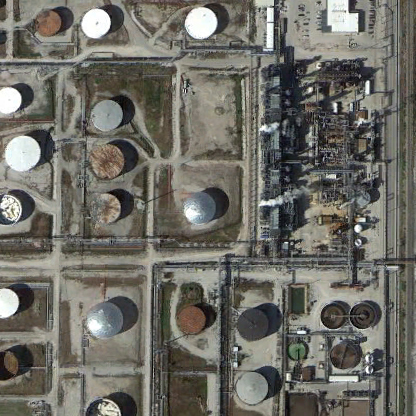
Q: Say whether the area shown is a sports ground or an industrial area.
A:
industrial area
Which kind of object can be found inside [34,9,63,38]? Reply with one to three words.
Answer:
storage tank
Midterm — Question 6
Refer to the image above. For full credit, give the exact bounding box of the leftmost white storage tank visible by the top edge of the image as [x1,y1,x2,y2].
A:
[80,8,112,40]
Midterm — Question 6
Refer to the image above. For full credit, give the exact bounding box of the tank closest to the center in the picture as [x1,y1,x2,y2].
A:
[182,191,217,226]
